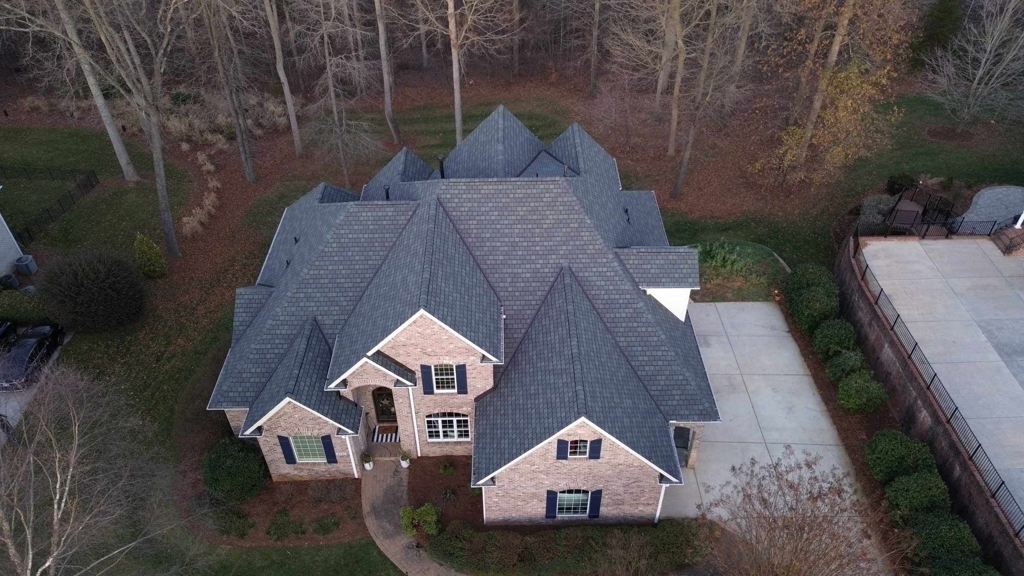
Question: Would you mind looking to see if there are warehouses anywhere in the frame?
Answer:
No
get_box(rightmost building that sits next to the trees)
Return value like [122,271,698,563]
[204,105,725,529]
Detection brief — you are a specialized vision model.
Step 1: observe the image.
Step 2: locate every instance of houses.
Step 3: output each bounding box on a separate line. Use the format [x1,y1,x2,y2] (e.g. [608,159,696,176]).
[0,216,22,275]
[204,105,725,529]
